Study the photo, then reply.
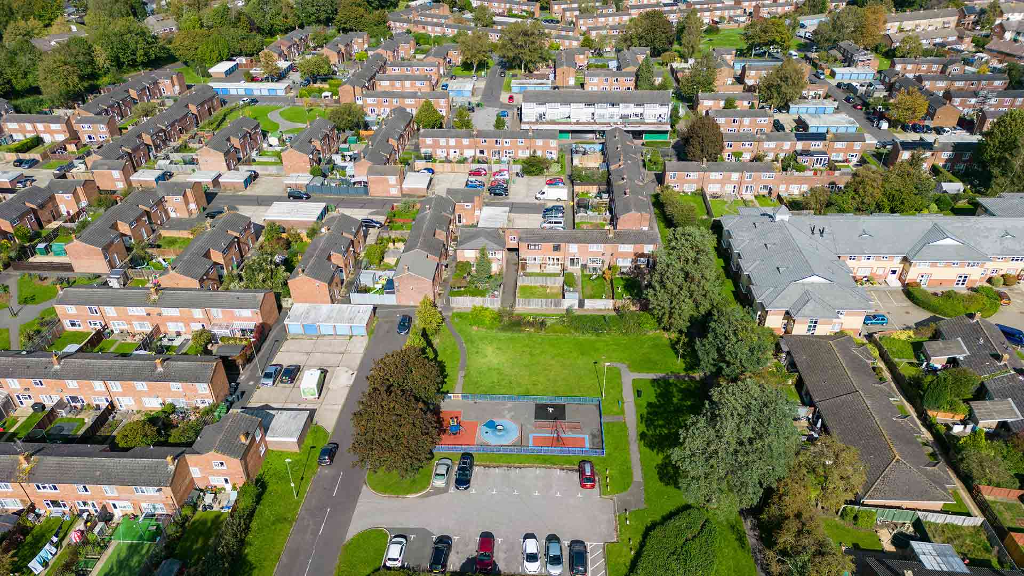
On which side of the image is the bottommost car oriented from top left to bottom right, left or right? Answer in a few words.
right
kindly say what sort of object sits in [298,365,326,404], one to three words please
trailer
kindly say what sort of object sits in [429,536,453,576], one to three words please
car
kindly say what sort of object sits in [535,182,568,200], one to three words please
vehicle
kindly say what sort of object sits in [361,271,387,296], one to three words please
shed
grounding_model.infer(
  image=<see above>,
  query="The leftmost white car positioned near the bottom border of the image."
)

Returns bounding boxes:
[383,535,407,572]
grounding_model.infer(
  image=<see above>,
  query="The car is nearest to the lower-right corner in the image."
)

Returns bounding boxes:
[997,324,1024,347]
